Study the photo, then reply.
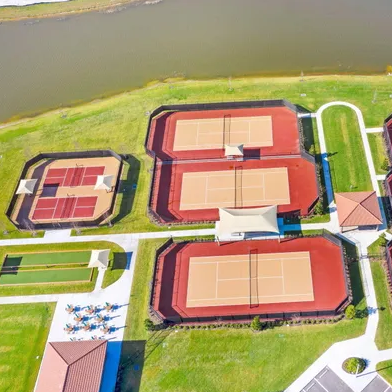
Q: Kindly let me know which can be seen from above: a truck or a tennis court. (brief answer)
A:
tennis court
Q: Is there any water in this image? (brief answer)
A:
Yes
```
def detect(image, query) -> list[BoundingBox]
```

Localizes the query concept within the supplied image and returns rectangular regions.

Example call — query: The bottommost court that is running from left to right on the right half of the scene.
[154,236,348,326]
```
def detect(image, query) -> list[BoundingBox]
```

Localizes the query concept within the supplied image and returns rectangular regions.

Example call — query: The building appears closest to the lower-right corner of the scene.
[334,191,383,233]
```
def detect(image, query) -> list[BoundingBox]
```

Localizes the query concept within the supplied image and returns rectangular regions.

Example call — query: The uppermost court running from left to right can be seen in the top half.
[148,106,301,162]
